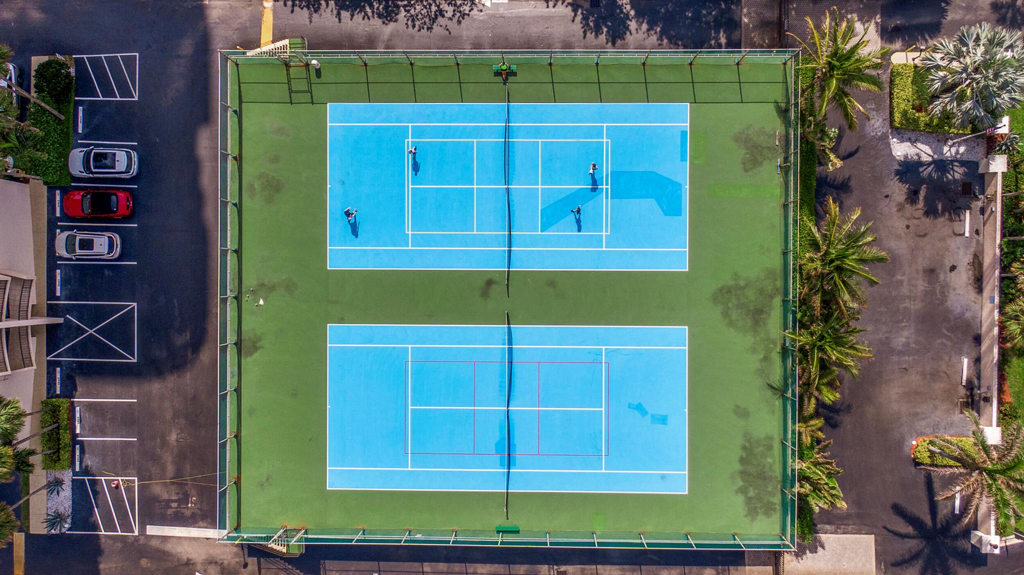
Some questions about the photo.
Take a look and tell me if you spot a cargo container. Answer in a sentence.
No, there's no cargo container here.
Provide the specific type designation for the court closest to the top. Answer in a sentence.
It turns out the court closest to the top is a tennis court.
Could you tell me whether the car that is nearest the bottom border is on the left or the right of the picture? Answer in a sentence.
You can find the car that is nearest the bottom border on the left side of the picture.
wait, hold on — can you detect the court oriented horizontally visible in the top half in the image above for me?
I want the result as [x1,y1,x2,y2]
[327,102,690,271]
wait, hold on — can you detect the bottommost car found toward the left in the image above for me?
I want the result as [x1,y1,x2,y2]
[56,228,122,262]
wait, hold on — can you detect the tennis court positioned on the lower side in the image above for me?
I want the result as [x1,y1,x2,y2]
[326,324,688,494]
